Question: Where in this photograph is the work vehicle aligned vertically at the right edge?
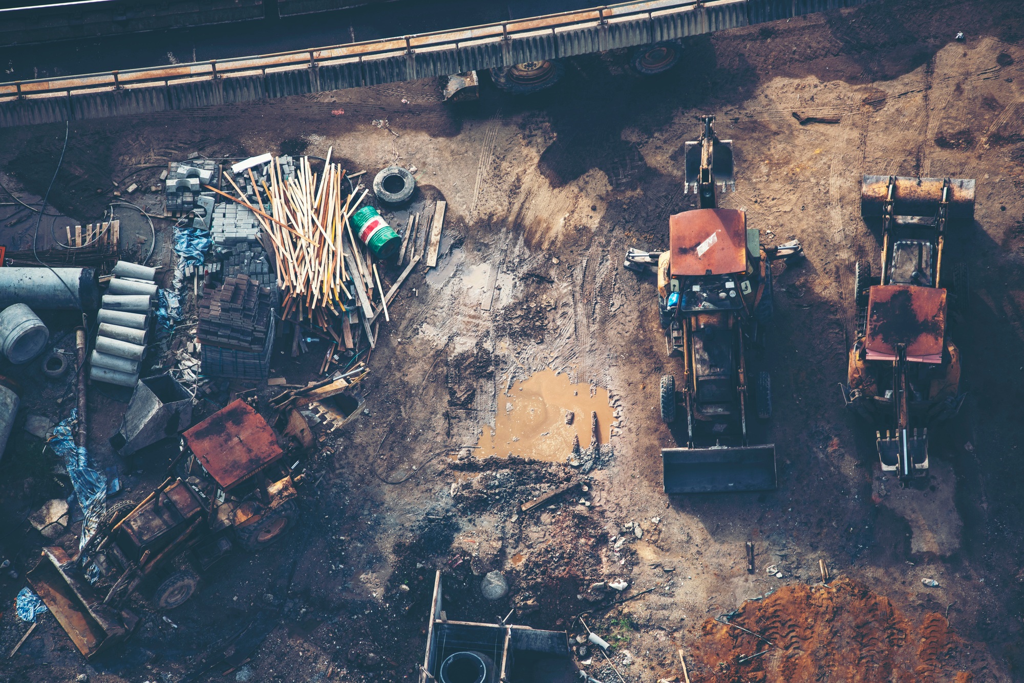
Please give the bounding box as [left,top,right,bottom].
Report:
[836,178,976,494]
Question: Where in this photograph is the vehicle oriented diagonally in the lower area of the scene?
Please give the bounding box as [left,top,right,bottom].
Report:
[27,369,365,667]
